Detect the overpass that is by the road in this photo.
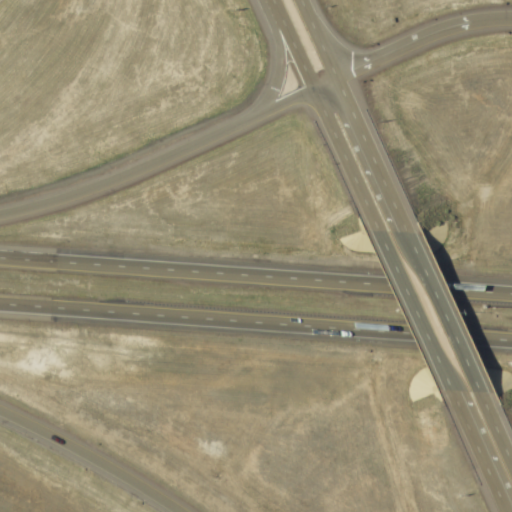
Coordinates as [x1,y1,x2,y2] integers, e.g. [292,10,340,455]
[340,221,512,406]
